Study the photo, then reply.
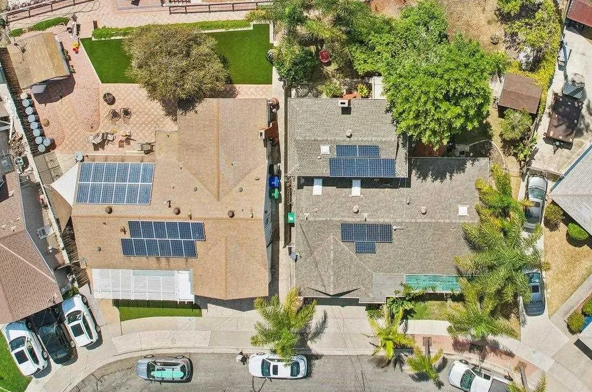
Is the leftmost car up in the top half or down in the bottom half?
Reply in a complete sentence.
The leftmost car is in the bottom half of the image.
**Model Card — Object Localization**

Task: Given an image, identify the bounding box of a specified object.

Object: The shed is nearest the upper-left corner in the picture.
[0,33,81,90]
